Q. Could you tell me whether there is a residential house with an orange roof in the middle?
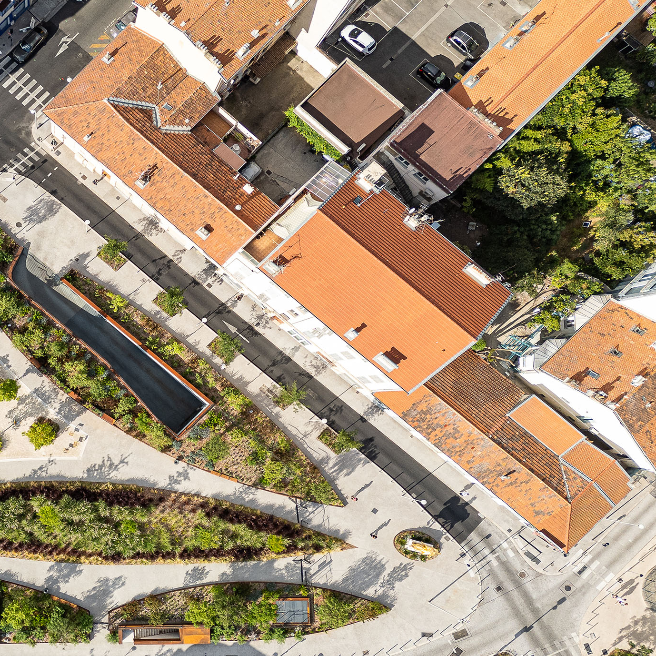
Yes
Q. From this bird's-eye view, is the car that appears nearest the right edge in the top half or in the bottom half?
top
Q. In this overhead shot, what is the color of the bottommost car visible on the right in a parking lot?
black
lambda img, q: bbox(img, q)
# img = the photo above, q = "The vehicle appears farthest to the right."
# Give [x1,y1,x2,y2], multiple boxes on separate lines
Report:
[445,26,483,62]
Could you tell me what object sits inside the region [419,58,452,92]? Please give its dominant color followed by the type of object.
black car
